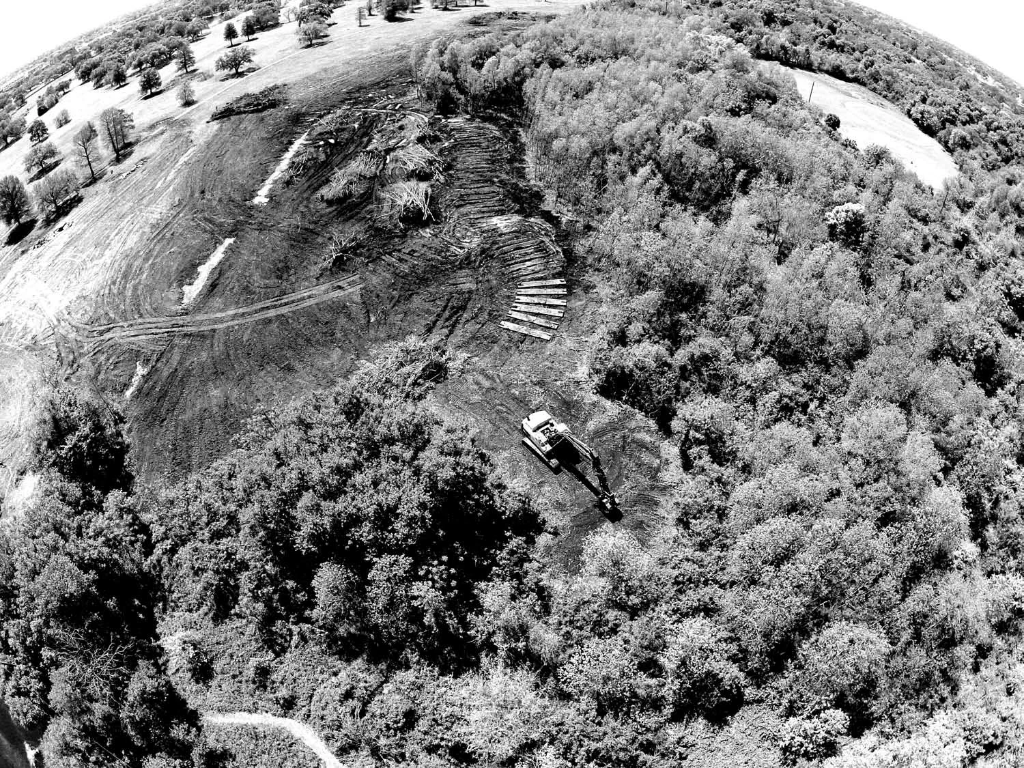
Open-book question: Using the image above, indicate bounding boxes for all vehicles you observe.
[520,414,615,516]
